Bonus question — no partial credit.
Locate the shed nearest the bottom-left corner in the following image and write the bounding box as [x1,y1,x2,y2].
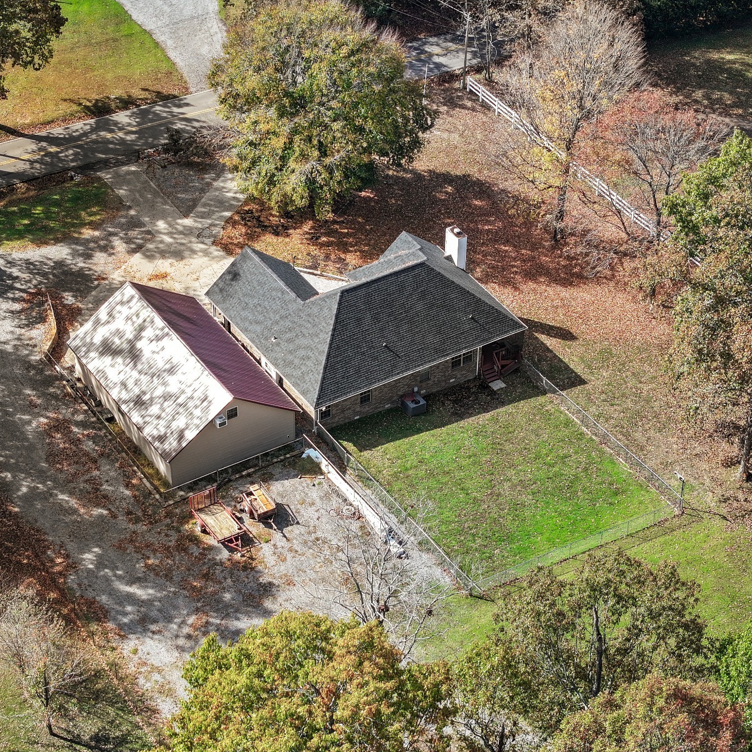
[67,282,301,488]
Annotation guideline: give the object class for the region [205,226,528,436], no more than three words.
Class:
house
